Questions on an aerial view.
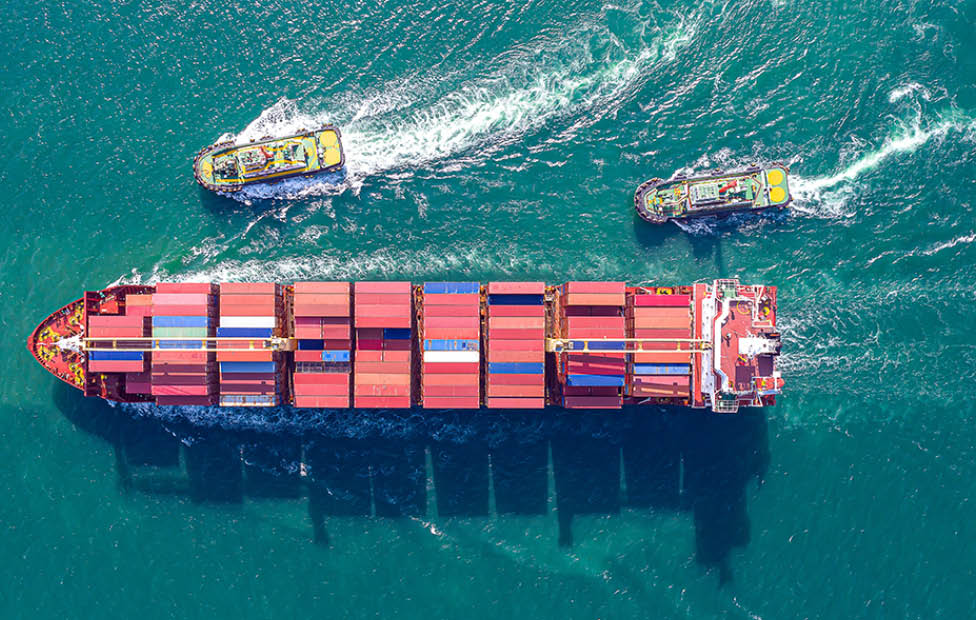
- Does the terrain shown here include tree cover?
No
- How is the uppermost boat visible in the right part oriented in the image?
from left to right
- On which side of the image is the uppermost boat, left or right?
left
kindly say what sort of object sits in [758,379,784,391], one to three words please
boat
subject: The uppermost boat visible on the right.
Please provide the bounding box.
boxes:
[635,159,792,223]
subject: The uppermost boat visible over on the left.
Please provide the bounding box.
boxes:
[192,123,345,188]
